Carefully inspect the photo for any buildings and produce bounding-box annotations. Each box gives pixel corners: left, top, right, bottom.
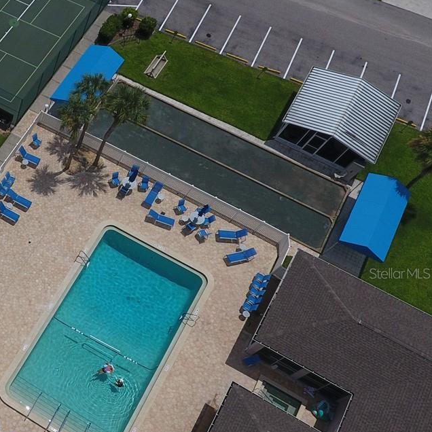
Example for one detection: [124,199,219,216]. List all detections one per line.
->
[205,247,432,432]
[273,67,401,172]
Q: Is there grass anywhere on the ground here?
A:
Yes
